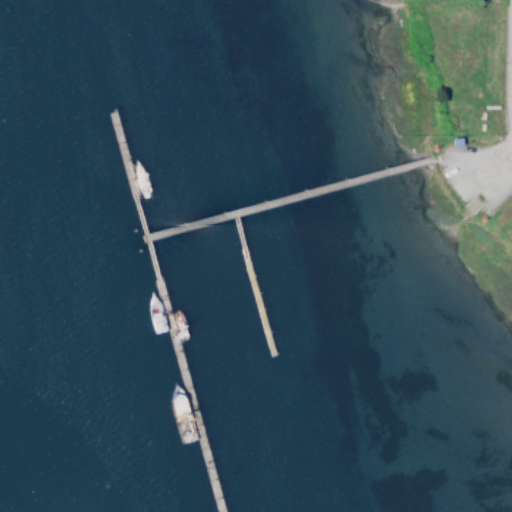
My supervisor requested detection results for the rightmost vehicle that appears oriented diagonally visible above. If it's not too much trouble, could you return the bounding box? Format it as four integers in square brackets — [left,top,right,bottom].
[445,165,462,178]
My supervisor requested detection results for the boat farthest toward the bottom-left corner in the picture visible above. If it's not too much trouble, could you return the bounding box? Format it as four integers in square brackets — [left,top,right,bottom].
[172,384,202,444]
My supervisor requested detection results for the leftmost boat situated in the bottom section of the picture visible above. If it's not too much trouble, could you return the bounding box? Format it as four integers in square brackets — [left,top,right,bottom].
[150,290,169,334]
